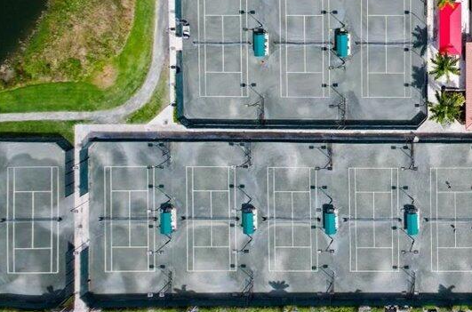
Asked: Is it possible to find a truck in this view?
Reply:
No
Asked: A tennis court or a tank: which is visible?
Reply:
tennis court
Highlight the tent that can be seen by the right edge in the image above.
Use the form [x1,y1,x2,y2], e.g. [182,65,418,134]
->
[439,2,462,54]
